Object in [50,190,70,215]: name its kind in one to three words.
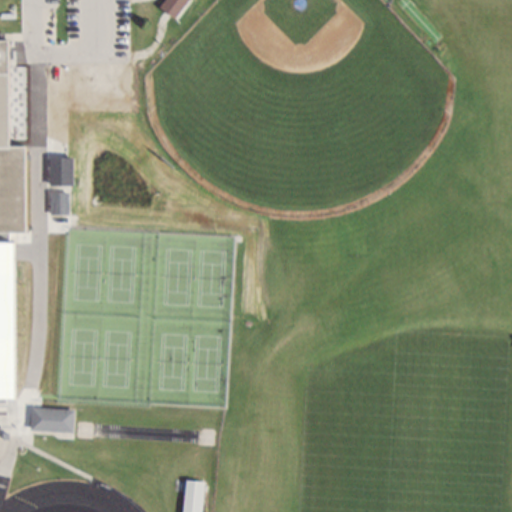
building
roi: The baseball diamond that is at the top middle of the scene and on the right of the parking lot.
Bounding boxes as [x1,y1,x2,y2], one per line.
[144,0,456,222]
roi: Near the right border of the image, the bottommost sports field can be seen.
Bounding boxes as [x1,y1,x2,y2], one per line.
[391,325,512,512]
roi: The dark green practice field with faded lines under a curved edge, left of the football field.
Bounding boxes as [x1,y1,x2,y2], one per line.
[298,330,394,512]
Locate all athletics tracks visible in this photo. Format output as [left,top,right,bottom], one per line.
[0,480,137,512]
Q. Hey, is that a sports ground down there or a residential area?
sports ground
